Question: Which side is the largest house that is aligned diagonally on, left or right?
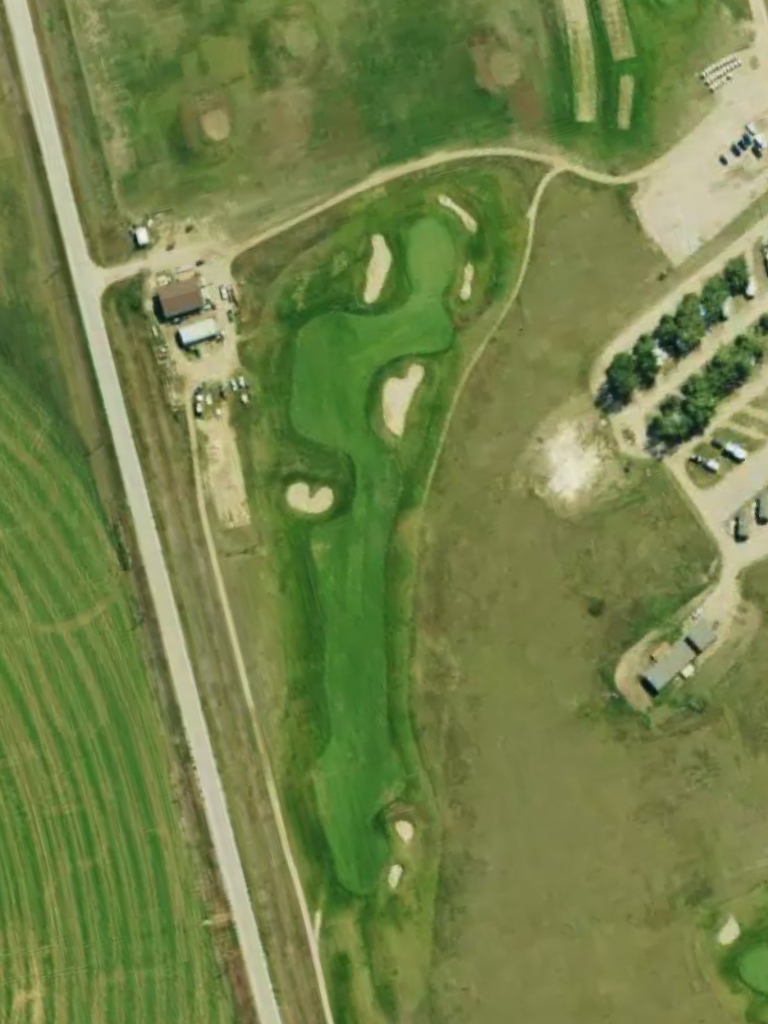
right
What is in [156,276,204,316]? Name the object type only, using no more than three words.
barn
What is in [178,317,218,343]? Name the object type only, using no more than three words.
shed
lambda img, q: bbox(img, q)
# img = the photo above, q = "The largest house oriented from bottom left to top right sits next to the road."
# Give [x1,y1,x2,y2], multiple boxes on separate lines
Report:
[642,622,718,692]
